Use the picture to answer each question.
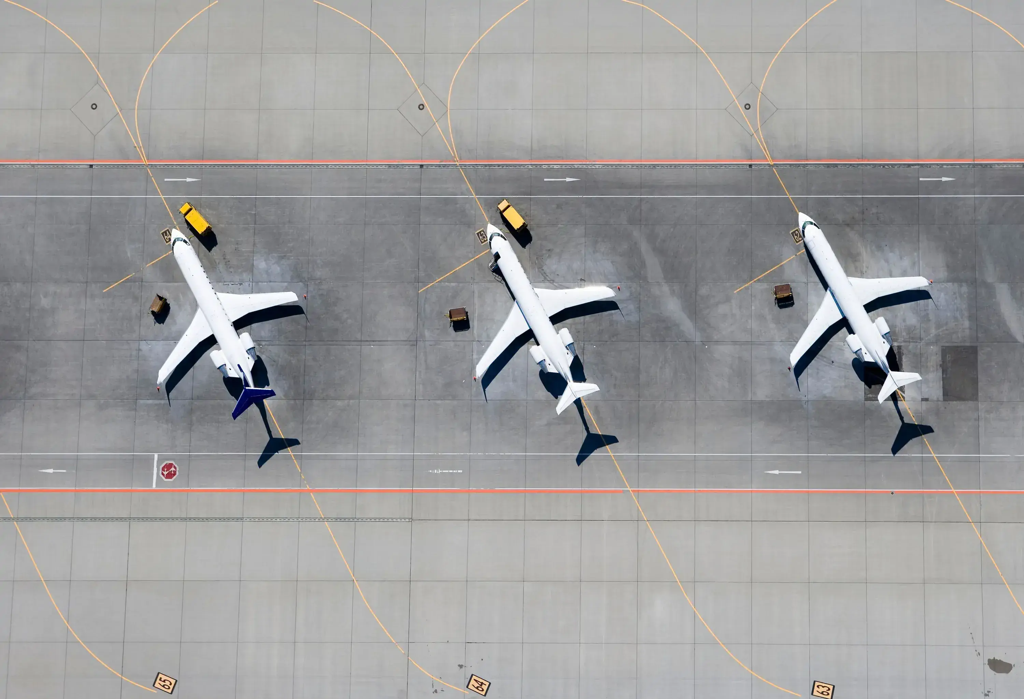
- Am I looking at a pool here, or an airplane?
airplane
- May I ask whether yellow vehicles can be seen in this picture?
Yes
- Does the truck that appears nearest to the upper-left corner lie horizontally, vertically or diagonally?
diagonally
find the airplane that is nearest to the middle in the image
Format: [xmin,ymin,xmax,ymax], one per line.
[475,224,617,415]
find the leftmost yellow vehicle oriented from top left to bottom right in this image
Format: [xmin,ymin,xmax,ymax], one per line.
[178,200,213,236]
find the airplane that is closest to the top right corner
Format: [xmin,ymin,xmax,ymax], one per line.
[790,212,932,404]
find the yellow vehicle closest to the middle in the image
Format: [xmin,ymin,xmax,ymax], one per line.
[496,197,527,231]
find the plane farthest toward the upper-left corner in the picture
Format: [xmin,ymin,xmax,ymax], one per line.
[157,229,299,420]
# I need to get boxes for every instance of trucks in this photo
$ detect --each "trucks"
[496,197,527,231]
[178,200,213,236]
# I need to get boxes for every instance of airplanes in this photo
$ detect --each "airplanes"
[790,212,932,404]
[157,229,299,420]
[475,224,617,415]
